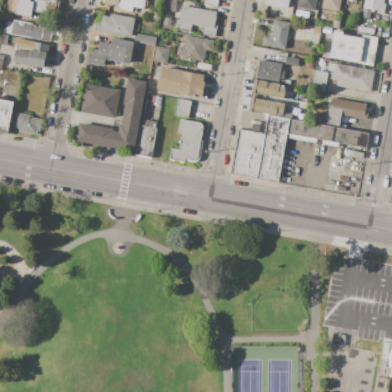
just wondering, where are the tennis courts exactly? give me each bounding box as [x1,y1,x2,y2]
[265,346,298,392]
[233,346,265,392]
